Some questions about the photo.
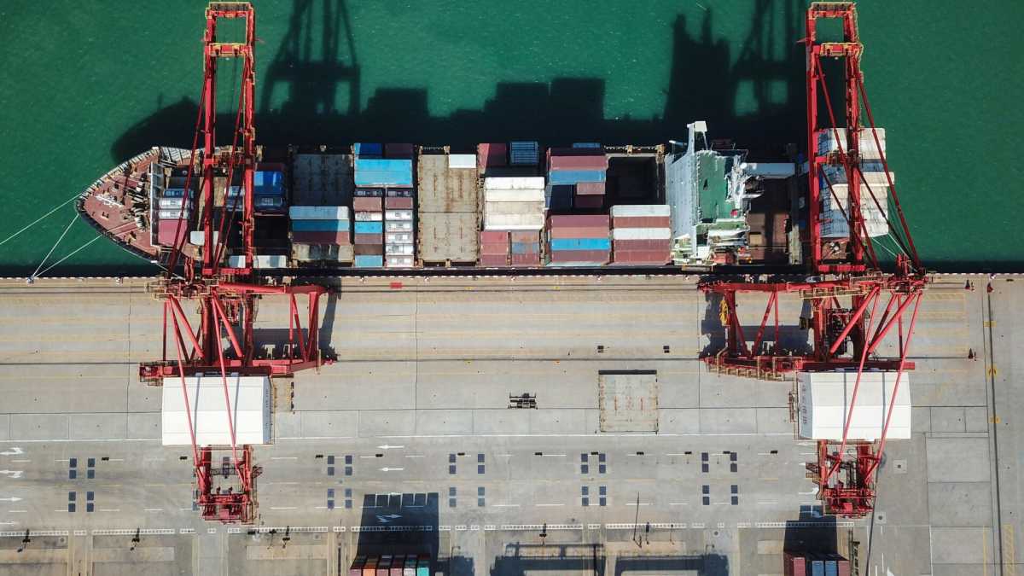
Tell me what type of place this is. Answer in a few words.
port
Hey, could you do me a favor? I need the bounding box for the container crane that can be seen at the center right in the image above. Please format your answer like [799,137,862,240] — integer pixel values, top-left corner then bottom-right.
[692,5,940,517]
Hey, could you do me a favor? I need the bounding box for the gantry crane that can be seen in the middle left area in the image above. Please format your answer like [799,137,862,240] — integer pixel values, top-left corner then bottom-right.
[138,1,351,525]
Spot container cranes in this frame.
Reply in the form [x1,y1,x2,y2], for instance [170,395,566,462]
[692,5,940,517]
[138,1,351,525]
